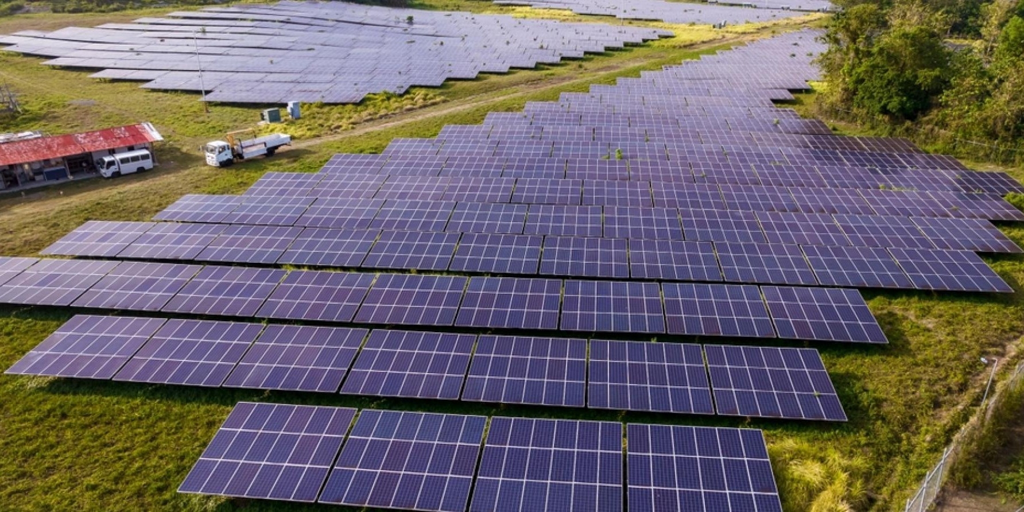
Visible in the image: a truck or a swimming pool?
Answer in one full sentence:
Of the two, only a truck appears.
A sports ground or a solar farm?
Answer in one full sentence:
What you see here is a solar farm.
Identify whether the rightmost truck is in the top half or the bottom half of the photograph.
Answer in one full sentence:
It is in the top half that the rightmost truck appears.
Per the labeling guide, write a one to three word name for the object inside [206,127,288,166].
truck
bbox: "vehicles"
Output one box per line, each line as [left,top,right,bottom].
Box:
[206,127,288,166]
[99,145,154,176]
